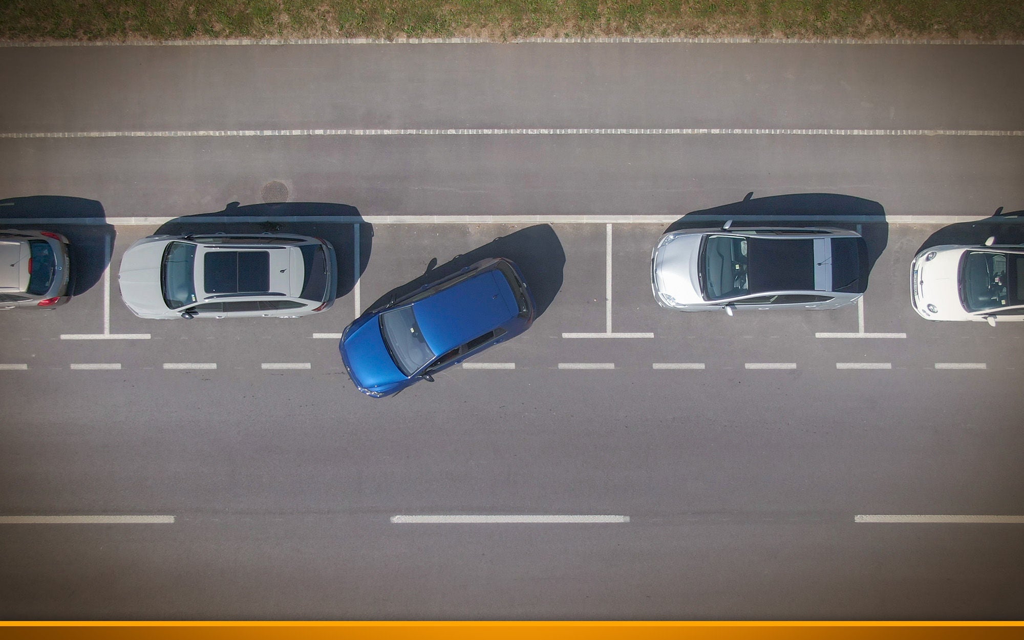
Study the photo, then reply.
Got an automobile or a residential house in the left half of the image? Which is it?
automobile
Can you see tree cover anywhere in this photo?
No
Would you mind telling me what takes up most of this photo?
paved ground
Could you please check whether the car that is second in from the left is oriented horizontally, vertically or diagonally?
horizontally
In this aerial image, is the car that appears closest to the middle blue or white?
blue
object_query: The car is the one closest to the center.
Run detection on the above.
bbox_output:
[339,257,537,397]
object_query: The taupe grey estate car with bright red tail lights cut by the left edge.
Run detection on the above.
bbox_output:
[0,226,77,311]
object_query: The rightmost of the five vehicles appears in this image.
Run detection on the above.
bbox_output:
[909,235,1024,326]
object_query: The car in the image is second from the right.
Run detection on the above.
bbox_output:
[651,217,867,316]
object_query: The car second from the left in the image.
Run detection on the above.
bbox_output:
[118,229,338,321]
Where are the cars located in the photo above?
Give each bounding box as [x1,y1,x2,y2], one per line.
[909,235,1024,326]
[339,257,537,397]
[0,226,77,311]
[651,217,867,316]
[118,229,338,321]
